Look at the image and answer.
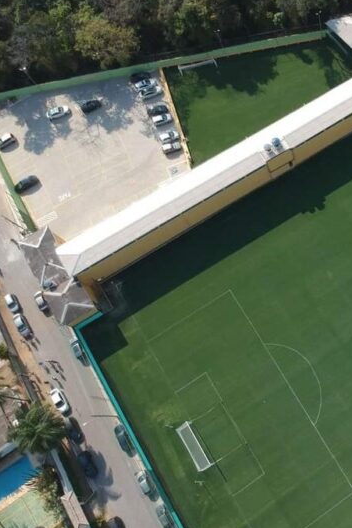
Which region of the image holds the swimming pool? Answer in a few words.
bottom left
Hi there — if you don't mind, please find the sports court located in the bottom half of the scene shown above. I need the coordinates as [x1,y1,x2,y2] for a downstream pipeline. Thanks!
[0,484,64,528]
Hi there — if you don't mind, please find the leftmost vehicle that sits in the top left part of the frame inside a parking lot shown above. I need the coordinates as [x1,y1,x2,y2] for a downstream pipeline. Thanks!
[0,130,20,150]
